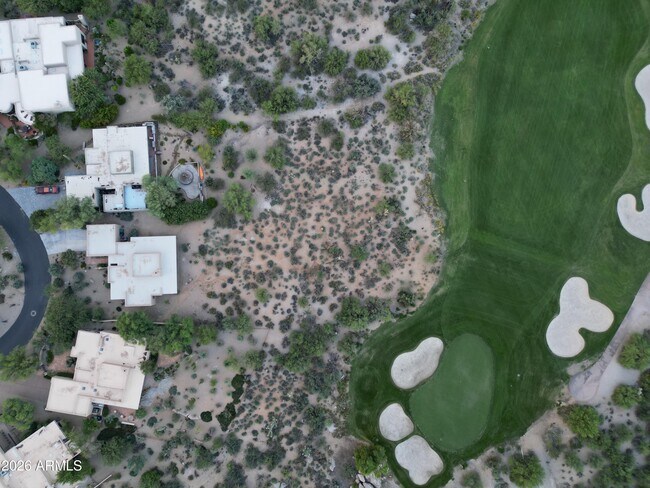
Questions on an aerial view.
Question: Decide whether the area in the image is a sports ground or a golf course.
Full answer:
What you see here is a golf course.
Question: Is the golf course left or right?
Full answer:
You can find the golf course on the right side of the picture.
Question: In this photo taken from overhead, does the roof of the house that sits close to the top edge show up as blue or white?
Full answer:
From above, the roof of the house that sits close to the top edge appears white.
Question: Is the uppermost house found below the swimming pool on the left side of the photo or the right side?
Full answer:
The uppermost house found below the swimming pool is on the left side of the image.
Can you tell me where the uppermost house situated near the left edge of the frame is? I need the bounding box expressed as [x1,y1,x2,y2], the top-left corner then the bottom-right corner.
[0,16,92,128]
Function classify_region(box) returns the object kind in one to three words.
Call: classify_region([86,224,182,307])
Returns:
house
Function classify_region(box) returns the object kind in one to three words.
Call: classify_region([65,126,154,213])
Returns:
house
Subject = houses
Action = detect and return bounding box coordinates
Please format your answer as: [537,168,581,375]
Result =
[65,126,154,213]
[0,416,76,488]
[46,328,155,417]
[0,16,92,128]
[86,224,182,307]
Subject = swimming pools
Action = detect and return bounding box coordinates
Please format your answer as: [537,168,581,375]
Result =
[128,186,146,209]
